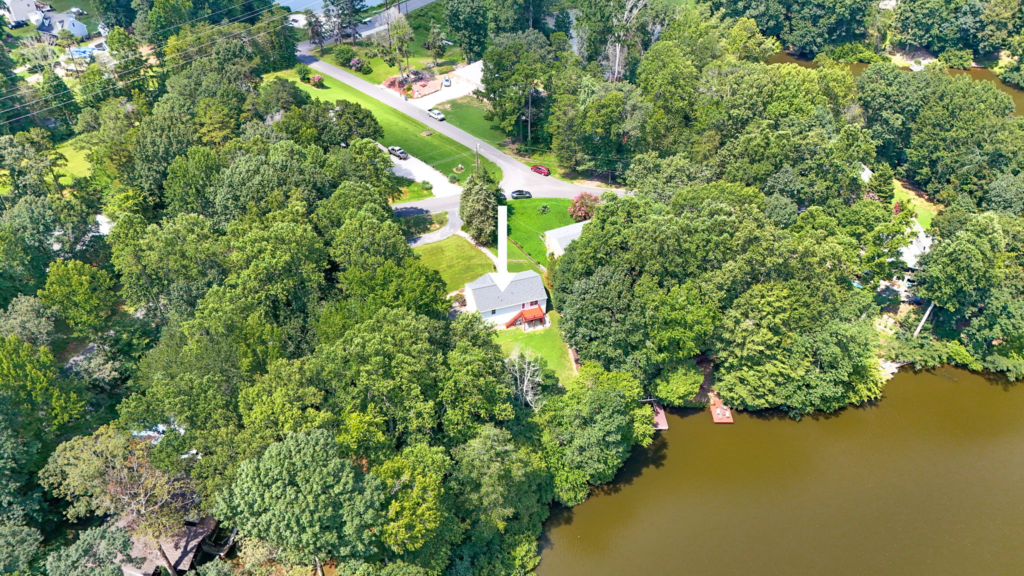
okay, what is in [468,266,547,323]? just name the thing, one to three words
house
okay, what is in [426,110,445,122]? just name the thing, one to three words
vehicle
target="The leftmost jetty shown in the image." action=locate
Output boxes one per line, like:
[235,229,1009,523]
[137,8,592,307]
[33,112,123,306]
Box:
[650,403,668,431]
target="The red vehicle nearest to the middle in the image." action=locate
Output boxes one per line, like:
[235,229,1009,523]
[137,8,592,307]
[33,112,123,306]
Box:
[531,165,551,177]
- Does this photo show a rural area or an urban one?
rural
